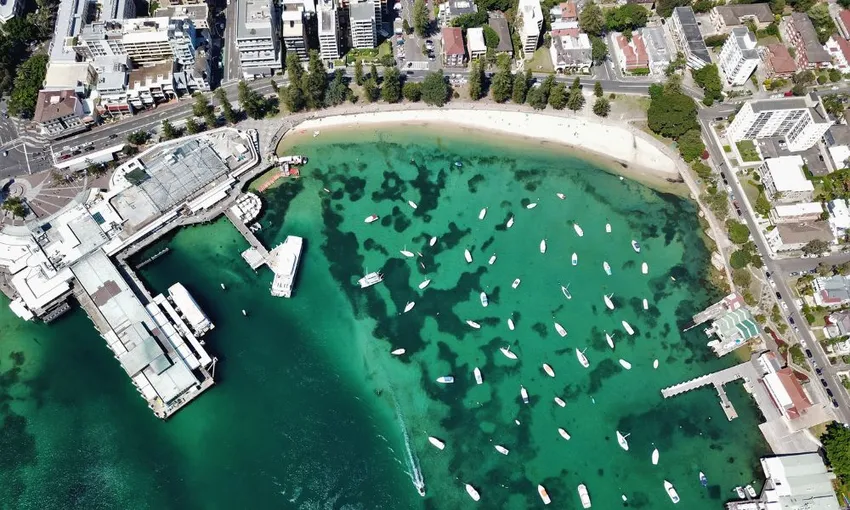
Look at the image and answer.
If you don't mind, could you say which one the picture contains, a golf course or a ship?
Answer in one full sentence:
Visible in the photo is a ship.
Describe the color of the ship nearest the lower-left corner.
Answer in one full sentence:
The ship nearest the lower-left corner looks white in the image.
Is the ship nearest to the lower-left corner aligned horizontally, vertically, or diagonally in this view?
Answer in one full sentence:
The ship nearest to the lower-left corner is oriented diagonally.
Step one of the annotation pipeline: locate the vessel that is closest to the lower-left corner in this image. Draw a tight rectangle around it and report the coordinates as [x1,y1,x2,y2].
[168,281,217,338]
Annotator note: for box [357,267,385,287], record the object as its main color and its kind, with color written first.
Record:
white boat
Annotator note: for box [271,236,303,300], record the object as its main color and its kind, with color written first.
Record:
white ship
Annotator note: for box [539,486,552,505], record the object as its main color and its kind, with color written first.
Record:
white boat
